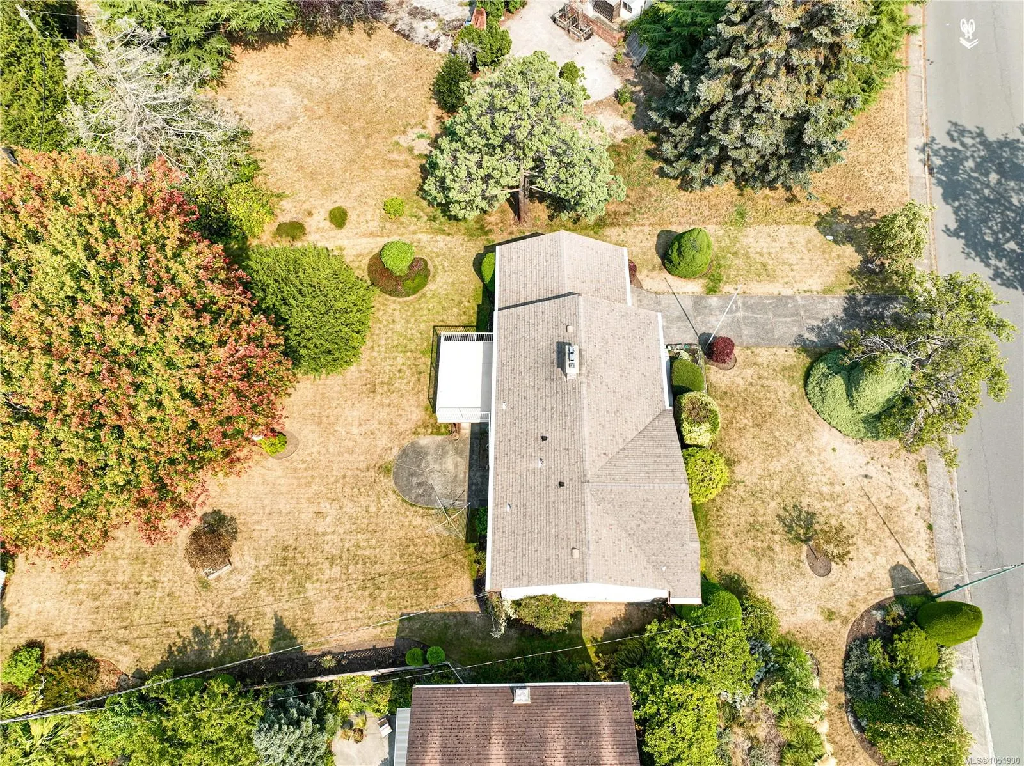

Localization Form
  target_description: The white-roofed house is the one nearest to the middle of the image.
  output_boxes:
[484,231,702,612]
